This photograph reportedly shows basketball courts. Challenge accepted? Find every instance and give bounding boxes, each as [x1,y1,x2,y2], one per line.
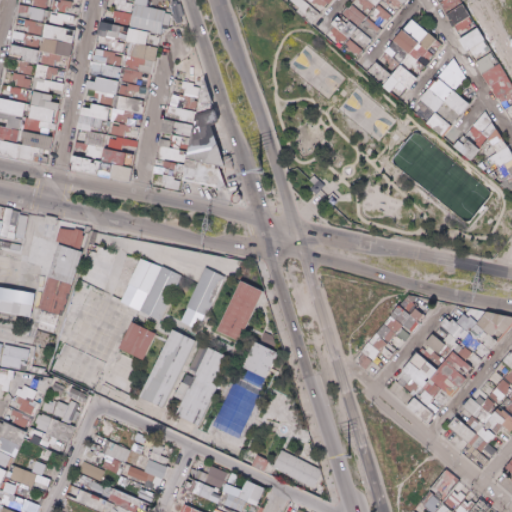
[340,88,397,140]
[290,46,346,98]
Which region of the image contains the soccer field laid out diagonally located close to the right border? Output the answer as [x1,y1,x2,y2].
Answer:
[396,136,487,217]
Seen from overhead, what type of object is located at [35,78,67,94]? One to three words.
house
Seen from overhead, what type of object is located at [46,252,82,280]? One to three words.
building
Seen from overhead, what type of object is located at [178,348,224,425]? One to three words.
building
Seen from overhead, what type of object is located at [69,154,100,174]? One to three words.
house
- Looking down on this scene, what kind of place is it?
residential area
